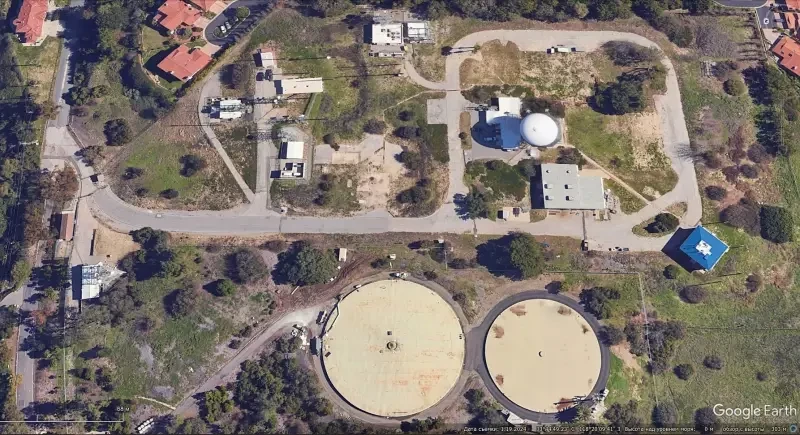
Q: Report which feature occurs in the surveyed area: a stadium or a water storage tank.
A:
water storage tank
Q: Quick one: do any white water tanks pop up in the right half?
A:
Yes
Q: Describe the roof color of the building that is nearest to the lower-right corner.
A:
blue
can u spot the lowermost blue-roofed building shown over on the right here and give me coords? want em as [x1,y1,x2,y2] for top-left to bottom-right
[679,224,730,271]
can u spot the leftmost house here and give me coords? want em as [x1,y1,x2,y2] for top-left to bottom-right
[11,0,46,43]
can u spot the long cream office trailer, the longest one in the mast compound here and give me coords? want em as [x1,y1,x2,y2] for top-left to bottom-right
[281,77,323,94]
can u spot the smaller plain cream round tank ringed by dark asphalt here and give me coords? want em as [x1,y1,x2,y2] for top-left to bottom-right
[485,297,602,414]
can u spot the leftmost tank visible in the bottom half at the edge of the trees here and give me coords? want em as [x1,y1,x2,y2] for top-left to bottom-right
[323,278,463,418]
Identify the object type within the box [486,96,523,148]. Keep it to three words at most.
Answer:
building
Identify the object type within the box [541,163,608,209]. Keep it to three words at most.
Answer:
building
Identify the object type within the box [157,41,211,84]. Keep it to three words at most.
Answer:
house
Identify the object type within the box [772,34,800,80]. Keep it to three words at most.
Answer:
house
